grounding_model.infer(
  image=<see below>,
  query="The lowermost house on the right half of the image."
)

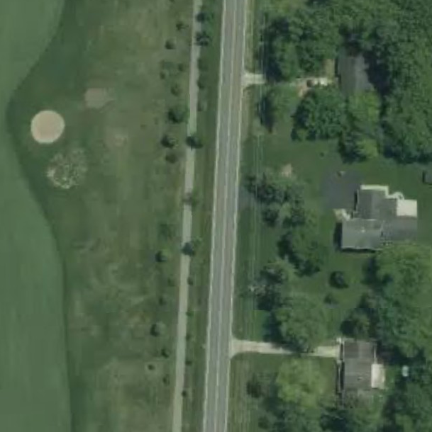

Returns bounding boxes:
[342,341,377,392]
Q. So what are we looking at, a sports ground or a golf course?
golf course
